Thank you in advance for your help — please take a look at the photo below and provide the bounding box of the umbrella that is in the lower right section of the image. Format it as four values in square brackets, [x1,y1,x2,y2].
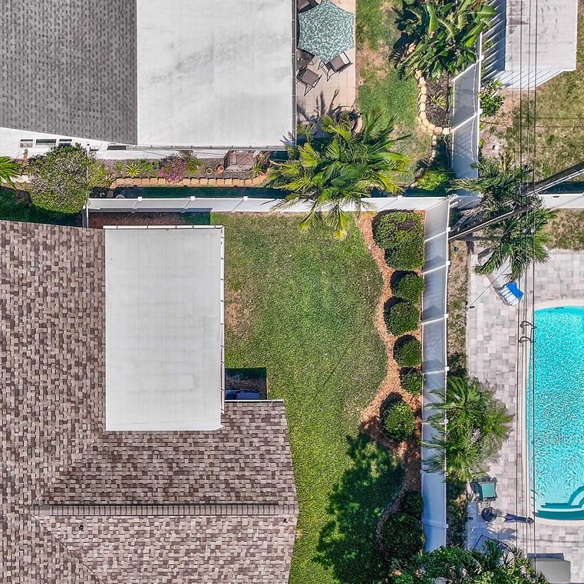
[482,507,536,525]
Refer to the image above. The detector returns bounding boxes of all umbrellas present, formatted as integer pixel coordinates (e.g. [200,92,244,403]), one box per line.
[295,0,356,64]
[482,507,536,525]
